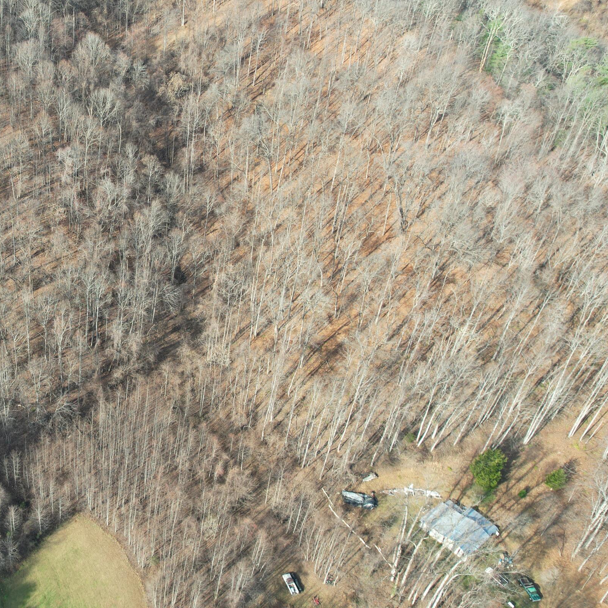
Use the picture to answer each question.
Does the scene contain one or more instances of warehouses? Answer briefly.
No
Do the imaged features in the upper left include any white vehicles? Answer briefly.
No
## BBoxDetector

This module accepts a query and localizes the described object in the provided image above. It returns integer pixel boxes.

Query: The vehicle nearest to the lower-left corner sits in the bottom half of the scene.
[280,573,300,598]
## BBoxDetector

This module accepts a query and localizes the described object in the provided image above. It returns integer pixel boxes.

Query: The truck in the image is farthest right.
[517,576,540,601]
